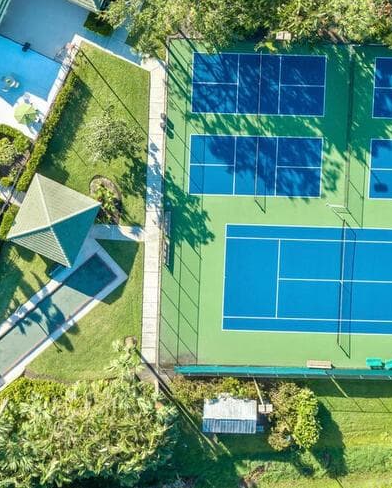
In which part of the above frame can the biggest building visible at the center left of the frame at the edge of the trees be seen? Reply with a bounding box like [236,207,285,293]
[7,172,101,268]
